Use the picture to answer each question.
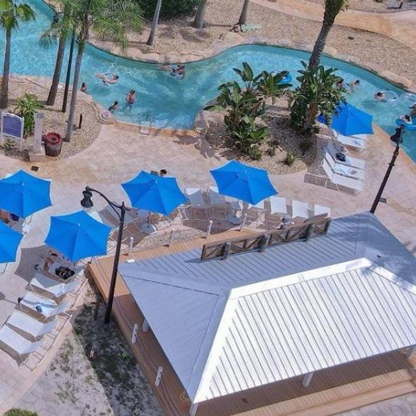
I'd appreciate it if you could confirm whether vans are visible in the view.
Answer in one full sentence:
No, I find no van anywhere in the image.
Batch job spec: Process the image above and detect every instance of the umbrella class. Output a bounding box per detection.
[318,107,373,154]
[0,225,22,261]
[212,164,275,225]
[46,215,110,279]
[0,176,52,238]
[122,174,187,236]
